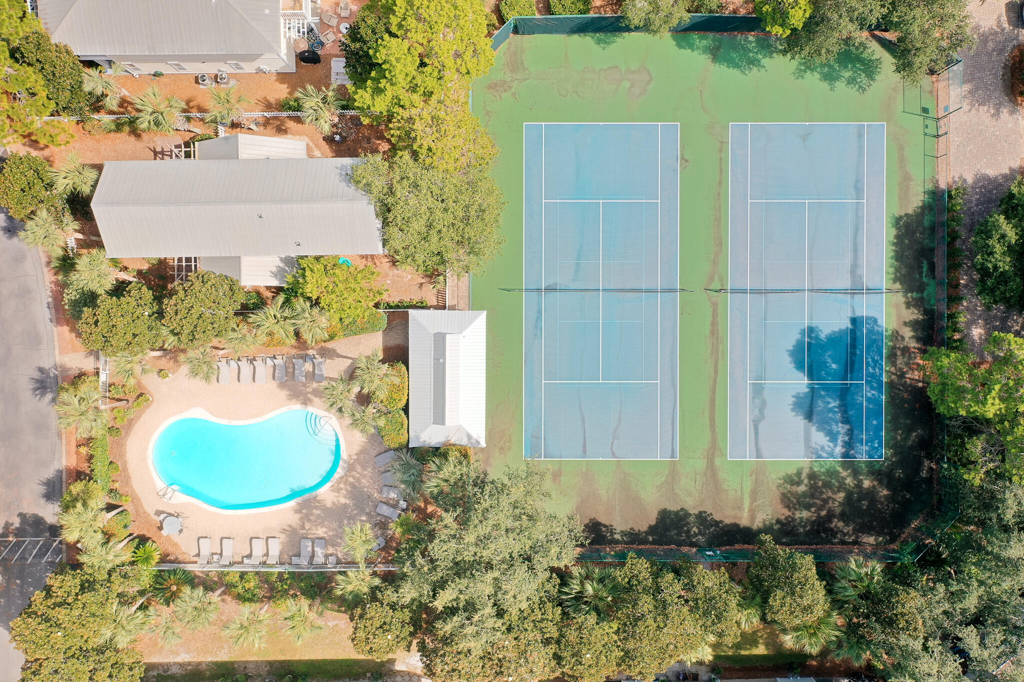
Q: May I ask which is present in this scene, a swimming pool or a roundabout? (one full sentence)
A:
The one in the frame is a swimming pool.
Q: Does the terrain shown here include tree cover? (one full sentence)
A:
Yes, tree cover shows up in the scene.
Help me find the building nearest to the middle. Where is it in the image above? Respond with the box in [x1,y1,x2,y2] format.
[408,310,487,447]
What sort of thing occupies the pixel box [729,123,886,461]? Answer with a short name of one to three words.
tennis court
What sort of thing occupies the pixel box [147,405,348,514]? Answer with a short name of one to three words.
swimming pool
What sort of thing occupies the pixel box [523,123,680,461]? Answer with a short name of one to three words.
tennis court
